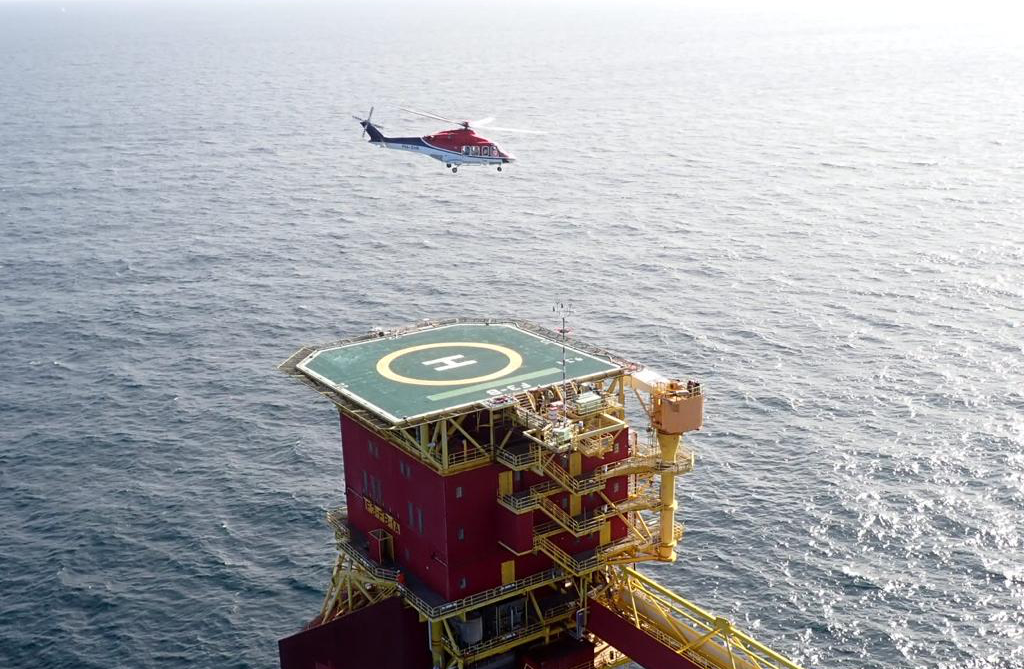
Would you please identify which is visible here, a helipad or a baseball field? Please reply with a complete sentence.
There is a helipad in the scene.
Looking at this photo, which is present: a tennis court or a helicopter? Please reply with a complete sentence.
The image shows a helicopter.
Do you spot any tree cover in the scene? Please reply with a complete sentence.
No, no tree cover is visible.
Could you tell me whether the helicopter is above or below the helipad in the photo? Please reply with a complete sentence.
You can see the helicopter above the helipad in the frame.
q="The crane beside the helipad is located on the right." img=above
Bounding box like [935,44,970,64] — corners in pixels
[585,343,706,569]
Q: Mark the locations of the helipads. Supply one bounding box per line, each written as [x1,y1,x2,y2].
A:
[278,317,631,469]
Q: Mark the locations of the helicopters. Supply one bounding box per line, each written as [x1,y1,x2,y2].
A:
[354,106,544,173]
